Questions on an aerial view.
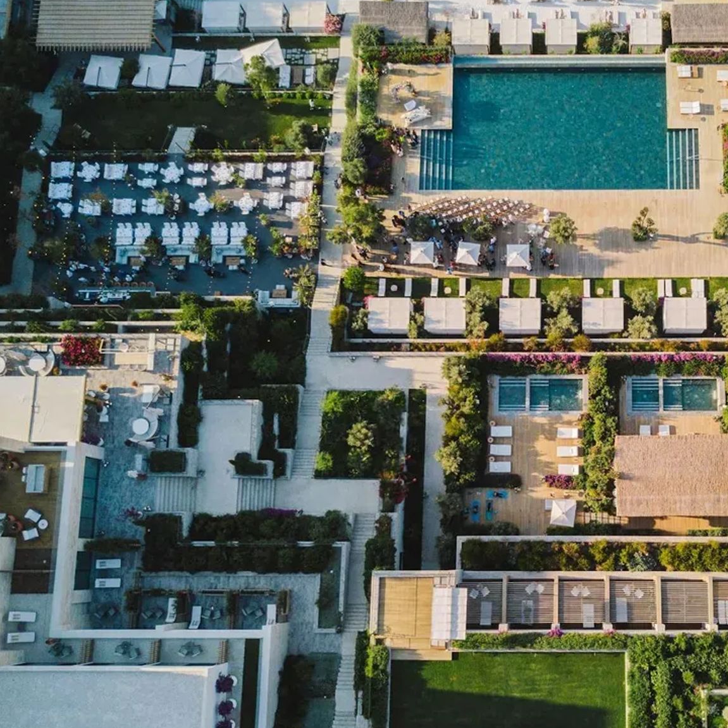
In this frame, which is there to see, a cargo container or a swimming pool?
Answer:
swimming pool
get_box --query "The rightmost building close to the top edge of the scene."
[672,2,728,47]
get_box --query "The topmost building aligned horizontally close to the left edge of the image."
[33,0,168,62]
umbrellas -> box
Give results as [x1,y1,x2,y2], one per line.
[245,39,288,75]
[83,56,126,106]
[455,242,481,267]
[211,52,248,87]
[549,499,577,528]
[410,241,435,266]
[170,53,207,102]
[134,57,173,106]
[506,245,530,269]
